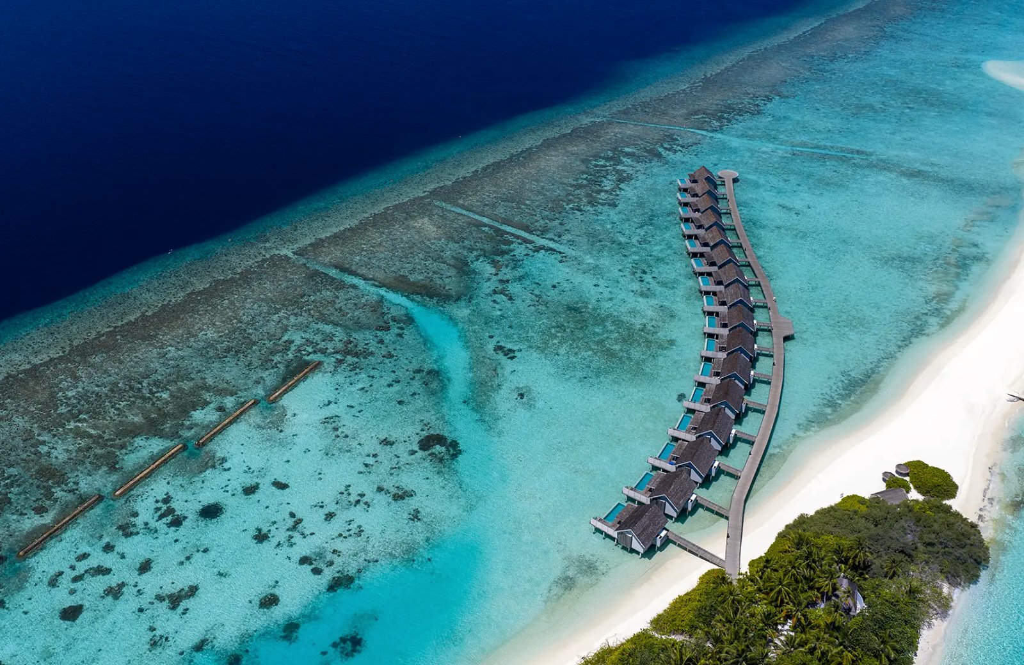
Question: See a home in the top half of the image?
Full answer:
Yes, a home appears in the top half of the image.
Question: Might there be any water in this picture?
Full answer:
Yes, there's water in this view.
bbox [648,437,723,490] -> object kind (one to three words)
house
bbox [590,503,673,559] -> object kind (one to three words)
house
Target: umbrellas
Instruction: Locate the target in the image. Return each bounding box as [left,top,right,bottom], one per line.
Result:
[882,469,896,480]
[894,461,911,474]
